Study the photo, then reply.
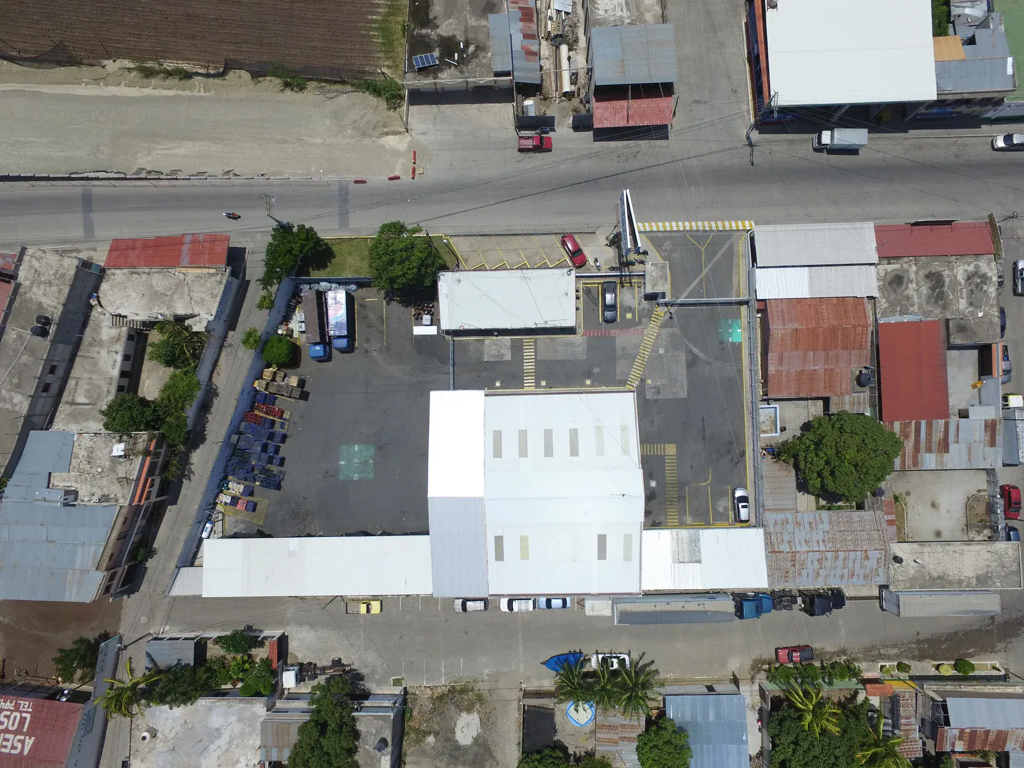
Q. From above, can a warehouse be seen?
Yes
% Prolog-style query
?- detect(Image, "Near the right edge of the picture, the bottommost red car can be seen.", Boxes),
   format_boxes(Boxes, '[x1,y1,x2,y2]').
[1000,484,1020,519]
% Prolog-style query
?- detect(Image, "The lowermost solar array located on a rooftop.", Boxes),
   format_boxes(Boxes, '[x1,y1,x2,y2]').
[411,51,440,70]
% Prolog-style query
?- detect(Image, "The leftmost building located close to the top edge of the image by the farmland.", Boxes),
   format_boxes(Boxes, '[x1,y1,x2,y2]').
[405,0,513,98]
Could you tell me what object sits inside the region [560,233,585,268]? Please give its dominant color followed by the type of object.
red car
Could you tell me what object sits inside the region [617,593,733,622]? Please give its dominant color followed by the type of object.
gray trailer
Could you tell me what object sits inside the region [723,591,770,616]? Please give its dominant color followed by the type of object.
blue truck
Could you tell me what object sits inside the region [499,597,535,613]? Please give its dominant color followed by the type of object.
white car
